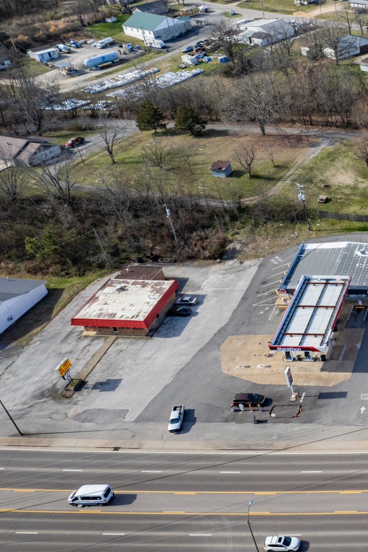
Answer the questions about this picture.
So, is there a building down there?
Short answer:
Yes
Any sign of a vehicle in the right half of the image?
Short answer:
Yes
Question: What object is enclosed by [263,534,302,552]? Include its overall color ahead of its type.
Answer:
white car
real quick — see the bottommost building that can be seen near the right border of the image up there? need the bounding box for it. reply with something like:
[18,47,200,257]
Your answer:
[279,241,368,309]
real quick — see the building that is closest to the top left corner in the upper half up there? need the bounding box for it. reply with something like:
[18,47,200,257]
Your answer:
[24,43,58,61]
